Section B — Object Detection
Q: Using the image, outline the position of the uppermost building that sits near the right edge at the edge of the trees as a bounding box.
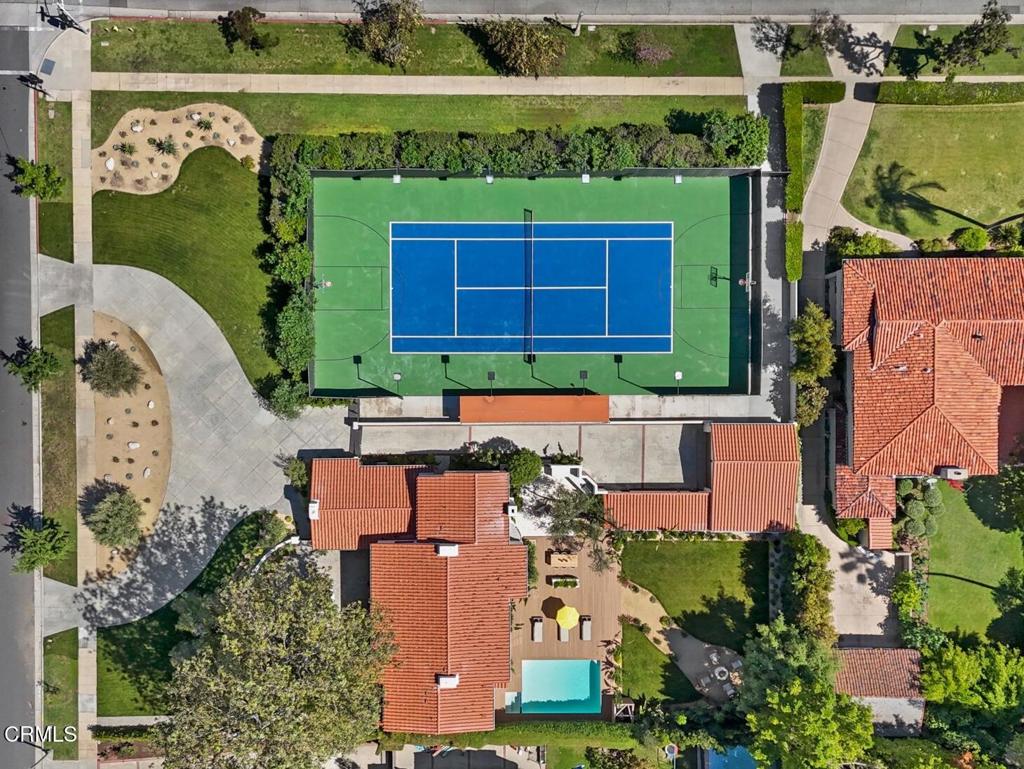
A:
[830,256,1024,550]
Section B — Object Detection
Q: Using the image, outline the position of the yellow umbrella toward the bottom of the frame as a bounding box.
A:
[555,604,579,628]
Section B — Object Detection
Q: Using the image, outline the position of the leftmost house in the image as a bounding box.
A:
[308,457,528,737]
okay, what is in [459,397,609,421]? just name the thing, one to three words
building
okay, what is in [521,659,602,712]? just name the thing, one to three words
swimming pool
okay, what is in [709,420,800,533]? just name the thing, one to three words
building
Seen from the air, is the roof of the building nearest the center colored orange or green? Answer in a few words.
orange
